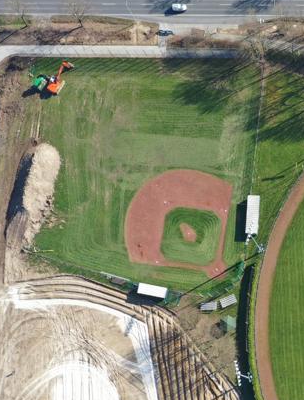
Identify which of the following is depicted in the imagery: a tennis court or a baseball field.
baseball field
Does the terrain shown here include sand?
Yes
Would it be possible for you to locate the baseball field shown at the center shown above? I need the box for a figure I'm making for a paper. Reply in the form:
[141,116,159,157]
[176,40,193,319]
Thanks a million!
[29,59,261,308]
